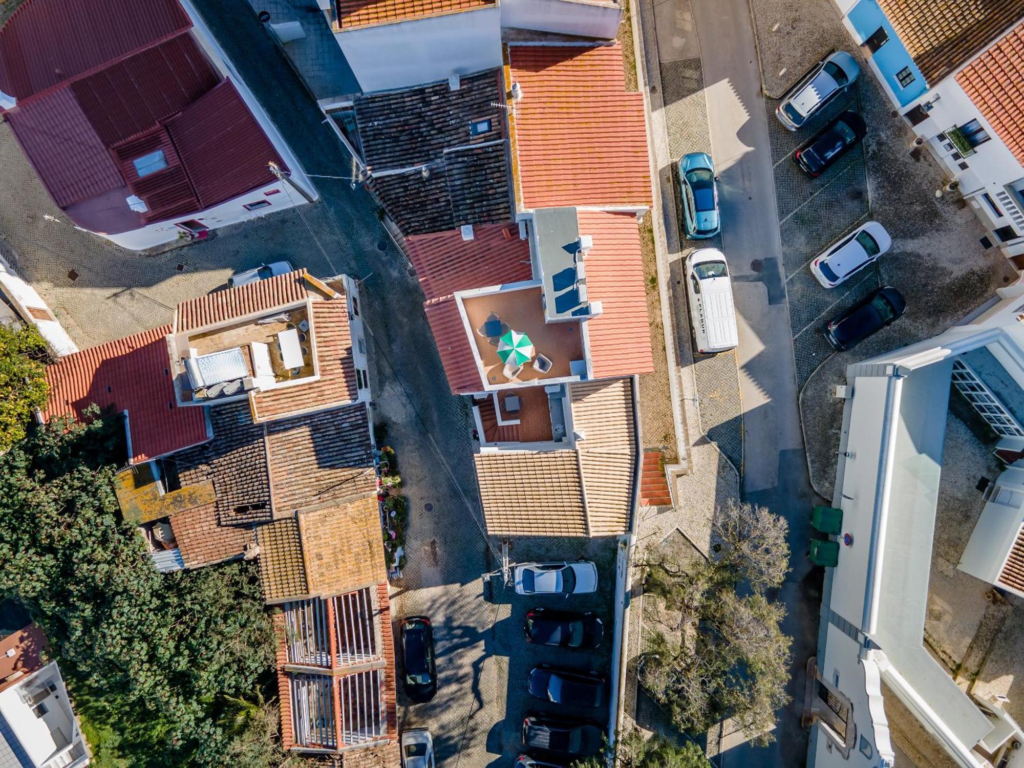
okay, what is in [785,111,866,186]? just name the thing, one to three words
car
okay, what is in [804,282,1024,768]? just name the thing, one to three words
church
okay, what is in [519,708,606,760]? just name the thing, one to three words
truck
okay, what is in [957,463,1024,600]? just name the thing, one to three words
shed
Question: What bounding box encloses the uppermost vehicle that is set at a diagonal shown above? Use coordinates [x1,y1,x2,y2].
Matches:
[766,49,861,141]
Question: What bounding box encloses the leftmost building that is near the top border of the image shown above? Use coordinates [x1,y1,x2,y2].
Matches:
[0,0,326,253]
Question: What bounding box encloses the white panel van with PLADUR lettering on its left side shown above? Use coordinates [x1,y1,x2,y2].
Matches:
[679,247,738,358]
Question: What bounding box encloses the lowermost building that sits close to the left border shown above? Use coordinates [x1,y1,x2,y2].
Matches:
[0,617,103,768]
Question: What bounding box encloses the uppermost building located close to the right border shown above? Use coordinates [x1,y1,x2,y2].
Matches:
[836,0,1024,109]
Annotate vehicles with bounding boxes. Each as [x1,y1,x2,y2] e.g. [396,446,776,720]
[785,111,866,186]
[397,613,442,701]
[519,708,606,760]
[802,218,890,295]
[223,257,301,291]
[521,604,604,653]
[512,556,599,601]
[679,247,738,358]
[815,284,906,357]
[526,661,608,711]
[766,49,861,141]
[672,154,722,242]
